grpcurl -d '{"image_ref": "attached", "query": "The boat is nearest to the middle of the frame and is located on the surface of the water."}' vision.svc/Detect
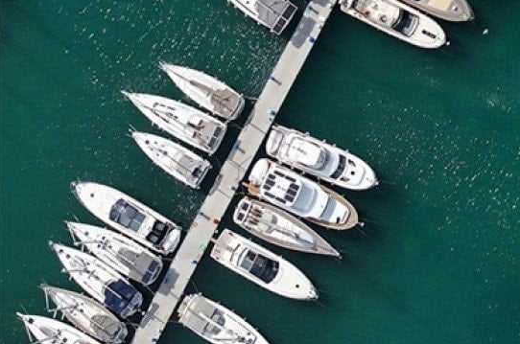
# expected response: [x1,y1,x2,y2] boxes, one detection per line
[246,159,269,183]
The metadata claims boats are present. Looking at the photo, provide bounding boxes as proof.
[129,132,218,198]
[108,79,239,151]
[47,230,149,316]
[231,152,362,232]
[249,116,391,189]
[158,53,257,120]
[233,0,299,31]
[162,228,181,253]
[62,175,189,253]
[62,212,168,291]
[404,0,478,20]
[38,272,133,344]
[165,275,272,344]
[14,310,100,344]
[341,0,455,57]
[222,191,358,266]
[246,159,269,183]
[197,224,337,316]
